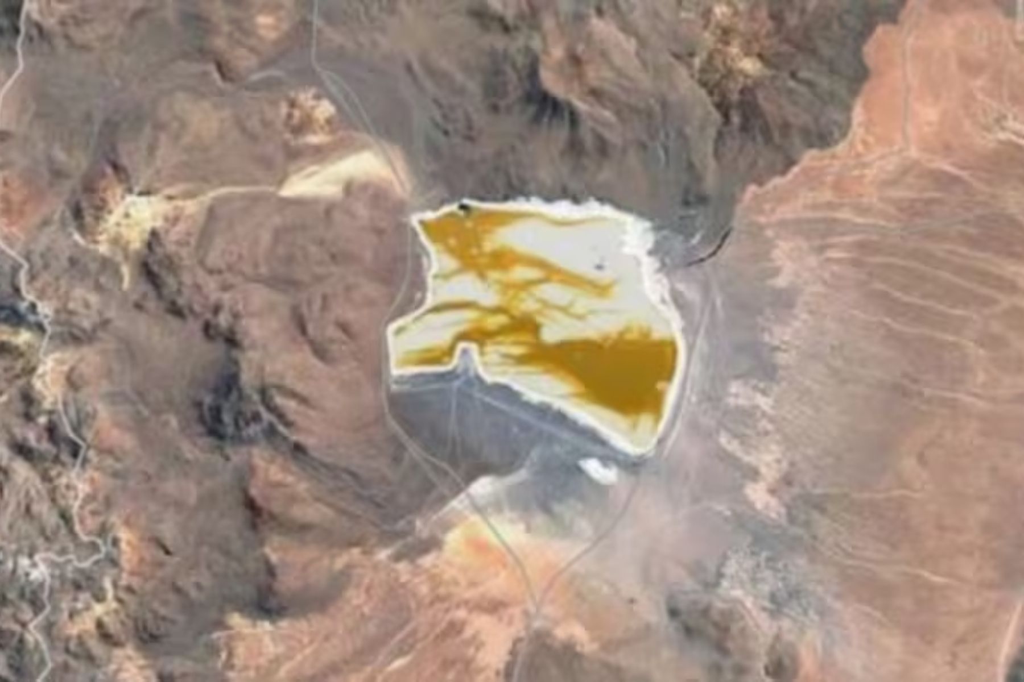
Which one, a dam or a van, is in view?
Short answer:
dam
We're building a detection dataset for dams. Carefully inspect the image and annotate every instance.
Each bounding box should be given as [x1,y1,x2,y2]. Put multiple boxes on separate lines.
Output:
[389,346,654,481]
